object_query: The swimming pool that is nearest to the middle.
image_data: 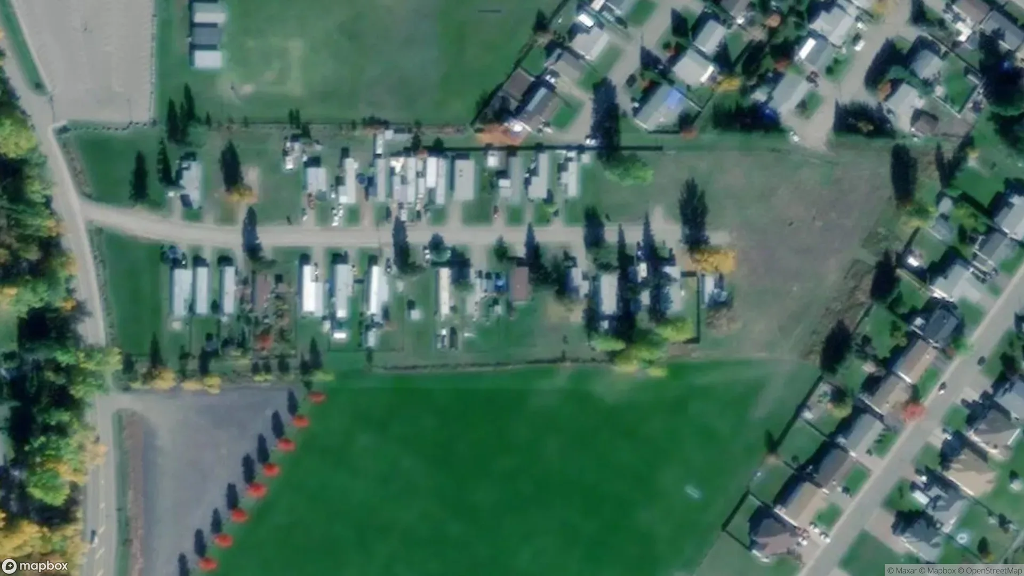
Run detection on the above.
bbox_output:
[430,244,450,263]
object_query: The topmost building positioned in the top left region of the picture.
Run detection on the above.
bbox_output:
[190,2,224,24]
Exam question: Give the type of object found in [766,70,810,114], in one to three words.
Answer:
house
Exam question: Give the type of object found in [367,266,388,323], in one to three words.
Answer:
house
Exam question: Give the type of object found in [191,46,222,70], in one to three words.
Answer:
building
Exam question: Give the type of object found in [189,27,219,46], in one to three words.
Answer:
building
